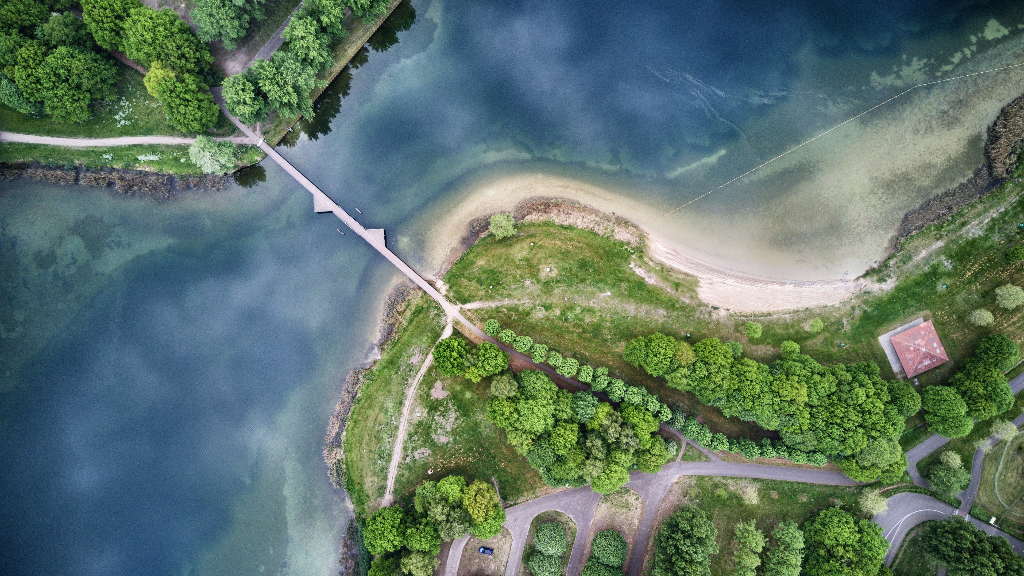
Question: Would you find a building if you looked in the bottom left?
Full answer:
No, no building can be made out in the bottom left.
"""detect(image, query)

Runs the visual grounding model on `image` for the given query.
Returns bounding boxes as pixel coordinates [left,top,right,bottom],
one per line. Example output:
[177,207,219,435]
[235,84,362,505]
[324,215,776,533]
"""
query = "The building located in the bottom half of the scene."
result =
[890,320,949,379]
